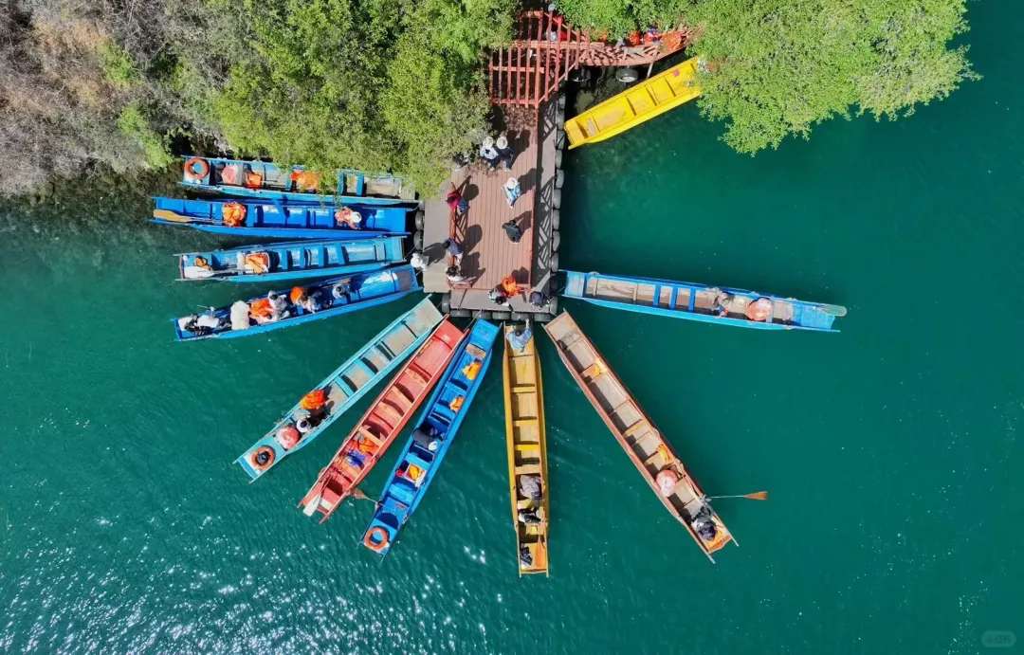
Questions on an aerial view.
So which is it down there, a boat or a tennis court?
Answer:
boat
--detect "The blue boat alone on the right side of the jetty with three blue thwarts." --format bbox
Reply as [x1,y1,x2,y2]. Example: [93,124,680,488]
[559,269,837,331]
